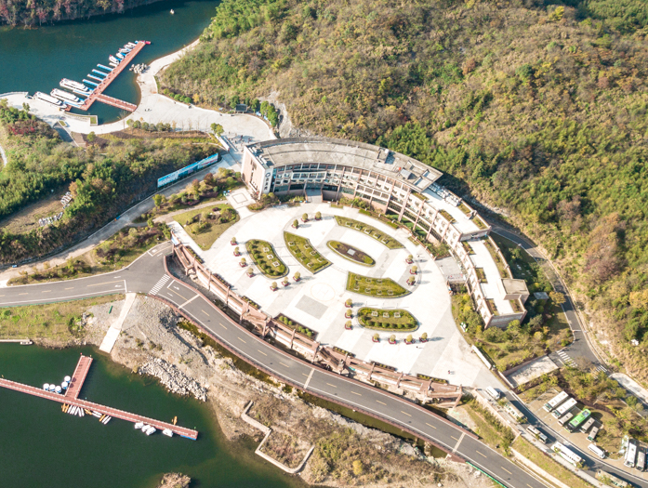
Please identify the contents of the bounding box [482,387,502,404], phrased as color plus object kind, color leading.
white vehicle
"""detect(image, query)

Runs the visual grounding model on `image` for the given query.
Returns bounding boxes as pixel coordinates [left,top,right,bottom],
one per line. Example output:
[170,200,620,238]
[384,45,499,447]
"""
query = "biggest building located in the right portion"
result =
[243,137,541,347]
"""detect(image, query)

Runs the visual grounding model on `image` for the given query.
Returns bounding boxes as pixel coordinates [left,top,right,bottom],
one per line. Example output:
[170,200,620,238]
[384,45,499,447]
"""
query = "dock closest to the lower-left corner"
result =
[0,355,198,442]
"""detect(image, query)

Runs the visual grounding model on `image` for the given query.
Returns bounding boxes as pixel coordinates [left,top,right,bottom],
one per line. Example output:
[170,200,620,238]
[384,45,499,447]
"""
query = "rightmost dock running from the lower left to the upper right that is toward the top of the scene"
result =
[80,40,146,111]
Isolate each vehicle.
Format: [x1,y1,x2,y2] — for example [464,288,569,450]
[547,398,578,422]
[576,417,597,436]
[547,442,585,472]
[482,387,502,404]
[584,444,606,461]
[523,425,549,447]
[560,410,591,435]
[632,451,647,474]
[553,412,574,428]
[592,471,628,488]
[538,391,570,415]
[620,441,637,469]
[583,427,600,444]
